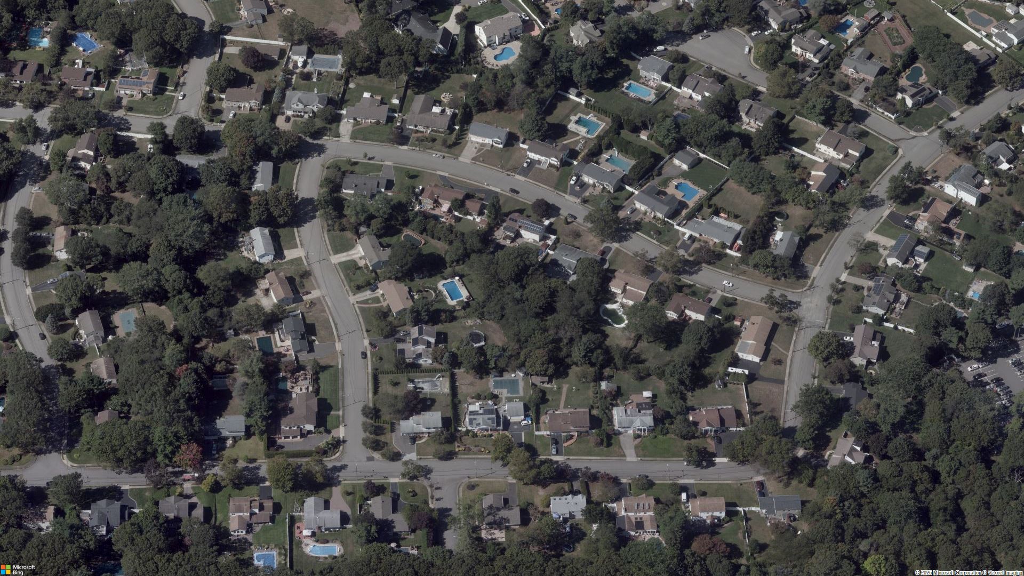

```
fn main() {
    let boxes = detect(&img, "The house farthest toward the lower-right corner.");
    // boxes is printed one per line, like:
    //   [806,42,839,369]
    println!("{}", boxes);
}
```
[828,437,863,475]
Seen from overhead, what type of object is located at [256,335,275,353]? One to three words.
swimming pool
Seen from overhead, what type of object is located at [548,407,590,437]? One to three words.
house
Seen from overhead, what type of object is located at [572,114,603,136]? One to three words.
swimming pool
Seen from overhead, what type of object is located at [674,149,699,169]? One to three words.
building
